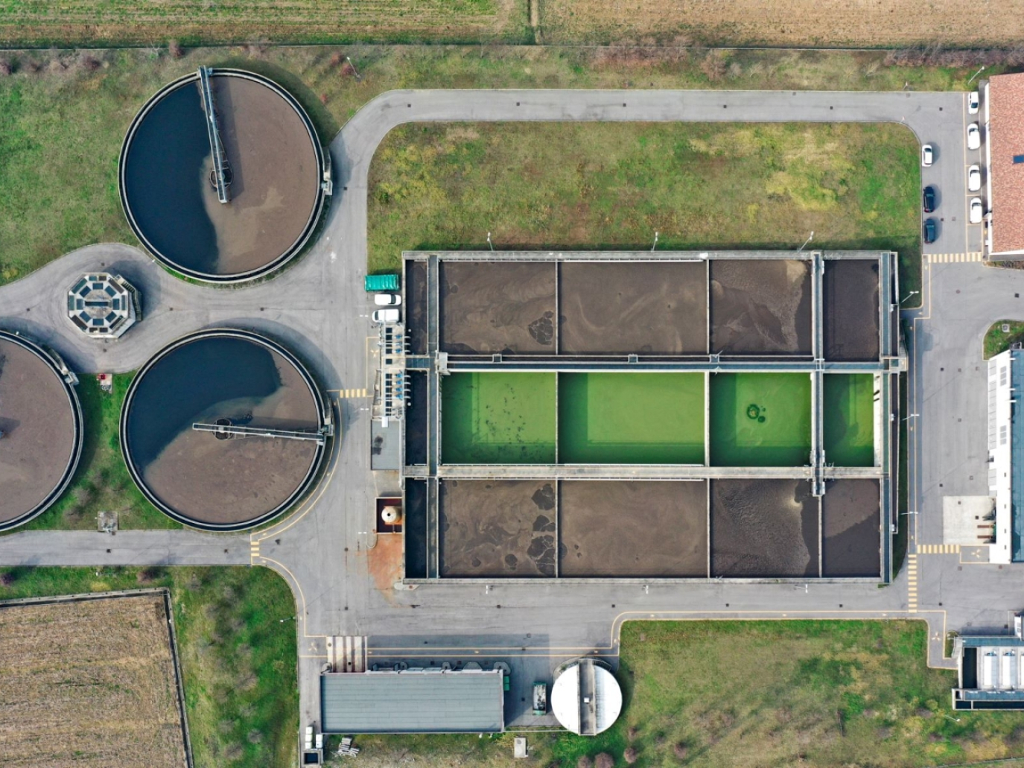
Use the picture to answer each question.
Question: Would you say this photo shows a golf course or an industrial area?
industrial area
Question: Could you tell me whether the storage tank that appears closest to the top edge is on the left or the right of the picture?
left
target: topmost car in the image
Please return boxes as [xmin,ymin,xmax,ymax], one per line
[966,91,981,116]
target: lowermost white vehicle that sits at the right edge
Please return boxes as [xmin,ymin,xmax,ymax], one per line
[968,199,984,224]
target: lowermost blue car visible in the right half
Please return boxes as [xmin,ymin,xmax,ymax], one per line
[923,220,937,245]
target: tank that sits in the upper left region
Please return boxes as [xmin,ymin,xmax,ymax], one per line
[118,63,339,284]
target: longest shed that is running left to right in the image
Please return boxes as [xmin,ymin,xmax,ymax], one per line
[316,657,507,738]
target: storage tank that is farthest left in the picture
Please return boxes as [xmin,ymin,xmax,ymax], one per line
[0,329,88,532]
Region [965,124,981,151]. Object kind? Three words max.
car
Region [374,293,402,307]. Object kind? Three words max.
vehicle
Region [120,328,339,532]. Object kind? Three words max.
storage tank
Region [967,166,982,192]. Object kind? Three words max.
car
